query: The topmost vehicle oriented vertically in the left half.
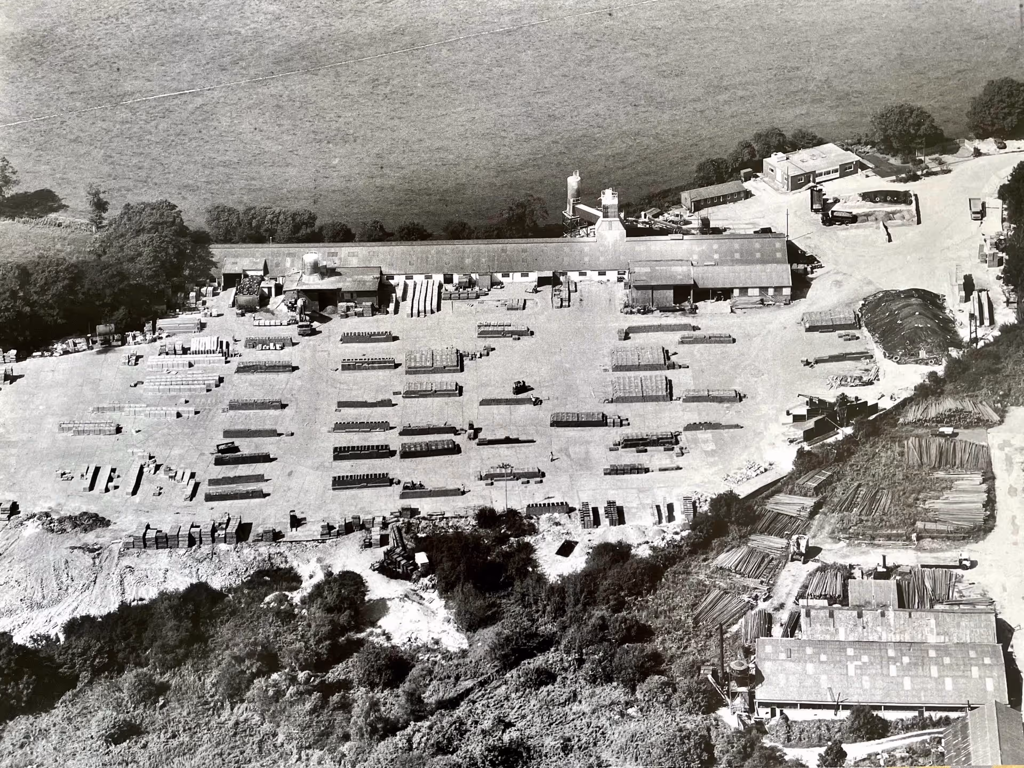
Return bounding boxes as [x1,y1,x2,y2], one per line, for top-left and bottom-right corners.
[295,295,313,333]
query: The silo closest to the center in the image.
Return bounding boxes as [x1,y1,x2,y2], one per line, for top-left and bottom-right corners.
[564,167,586,237]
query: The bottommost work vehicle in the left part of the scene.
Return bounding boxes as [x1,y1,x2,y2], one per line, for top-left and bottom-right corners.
[286,508,301,536]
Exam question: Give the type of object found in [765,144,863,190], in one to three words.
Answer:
building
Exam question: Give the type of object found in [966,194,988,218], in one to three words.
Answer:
truck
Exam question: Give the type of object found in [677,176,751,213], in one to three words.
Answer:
shed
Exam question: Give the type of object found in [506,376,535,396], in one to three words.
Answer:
work vehicle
